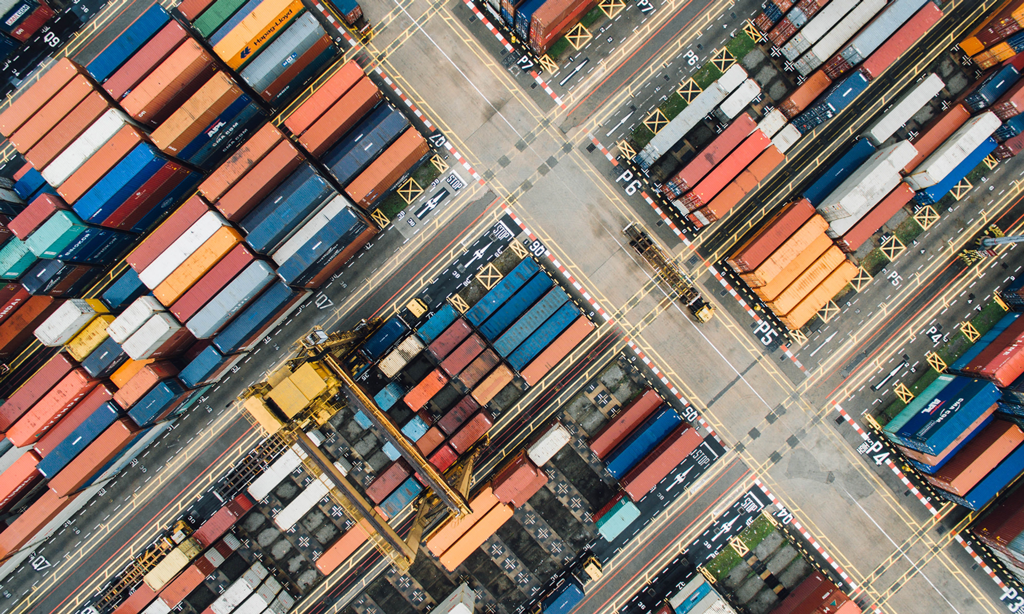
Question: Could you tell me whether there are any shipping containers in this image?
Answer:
Yes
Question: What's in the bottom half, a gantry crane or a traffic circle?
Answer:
gantry crane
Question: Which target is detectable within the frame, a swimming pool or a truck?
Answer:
truck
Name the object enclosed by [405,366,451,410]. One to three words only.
shipping container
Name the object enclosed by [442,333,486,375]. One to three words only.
shipping container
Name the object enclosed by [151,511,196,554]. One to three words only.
truck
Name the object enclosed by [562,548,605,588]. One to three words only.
truck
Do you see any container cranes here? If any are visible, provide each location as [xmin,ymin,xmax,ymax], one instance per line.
[233,307,485,580]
